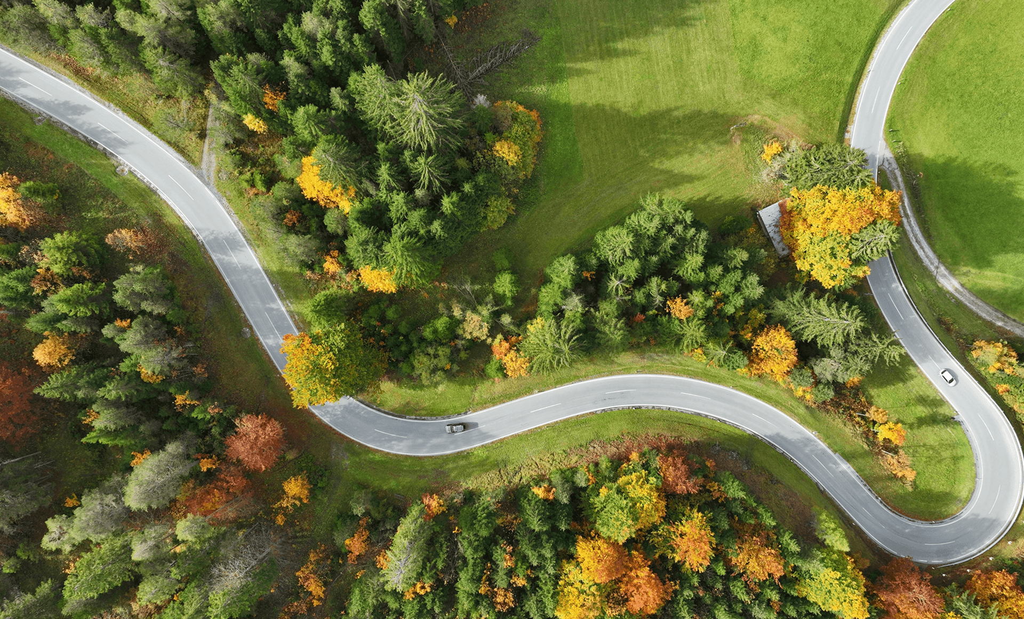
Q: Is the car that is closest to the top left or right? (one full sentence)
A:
The car that is closest to the top appears in the right half of the scene.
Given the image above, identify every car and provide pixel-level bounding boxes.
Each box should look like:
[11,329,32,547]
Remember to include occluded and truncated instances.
[937,367,957,387]
[446,422,466,434]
